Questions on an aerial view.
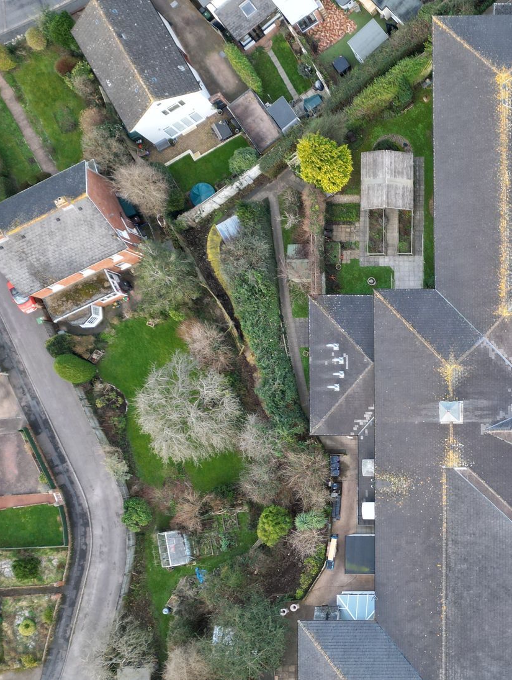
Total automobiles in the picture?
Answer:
1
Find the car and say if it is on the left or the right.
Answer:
left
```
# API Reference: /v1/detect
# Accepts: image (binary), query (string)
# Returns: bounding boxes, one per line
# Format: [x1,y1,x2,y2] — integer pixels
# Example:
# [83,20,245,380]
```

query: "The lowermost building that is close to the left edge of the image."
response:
[0,161,147,327]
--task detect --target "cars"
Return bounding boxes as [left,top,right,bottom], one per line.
[3,281,44,317]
